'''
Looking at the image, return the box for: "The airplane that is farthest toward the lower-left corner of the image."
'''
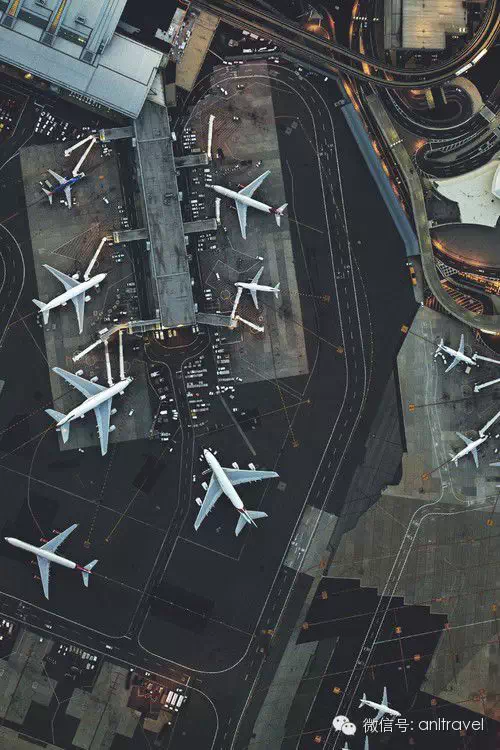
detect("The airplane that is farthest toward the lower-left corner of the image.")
[5,523,94,600]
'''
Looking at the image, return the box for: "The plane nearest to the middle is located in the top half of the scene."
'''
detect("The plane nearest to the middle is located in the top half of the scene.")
[235,266,280,309]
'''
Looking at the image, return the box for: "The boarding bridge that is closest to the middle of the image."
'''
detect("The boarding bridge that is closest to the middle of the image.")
[235,315,266,334]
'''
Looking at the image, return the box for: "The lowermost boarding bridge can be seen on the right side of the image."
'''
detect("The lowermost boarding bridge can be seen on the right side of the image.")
[477,412,500,436]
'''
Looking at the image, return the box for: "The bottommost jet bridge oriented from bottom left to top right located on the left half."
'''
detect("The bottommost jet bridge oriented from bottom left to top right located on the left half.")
[70,338,105,364]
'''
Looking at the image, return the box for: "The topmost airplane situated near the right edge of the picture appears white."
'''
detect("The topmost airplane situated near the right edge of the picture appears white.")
[436,335,476,371]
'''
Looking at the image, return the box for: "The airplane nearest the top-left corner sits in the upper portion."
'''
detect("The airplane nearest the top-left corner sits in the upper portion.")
[42,170,82,209]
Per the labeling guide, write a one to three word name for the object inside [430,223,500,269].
building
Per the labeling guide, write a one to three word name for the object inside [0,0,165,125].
building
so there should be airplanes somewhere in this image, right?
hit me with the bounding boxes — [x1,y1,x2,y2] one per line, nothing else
[35,264,107,333]
[448,433,488,467]
[42,170,82,209]
[212,170,287,238]
[48,369,133,456]
[359,689,400,724]
[436,335,476,371]
[195,450,280,532]
[235,266,280,309]
[5,523,94,600]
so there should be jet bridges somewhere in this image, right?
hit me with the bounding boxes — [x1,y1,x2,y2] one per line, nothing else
[234,284,243,324]
[208,113,215,160]
[63,134,97,158]
[474,378,500,394]
[73,137,100,178]
[477,412,500,436]
[70,338,105,364]
[214,196,222,224]
[119,331,126,379]
[83,235,109,279]
[471,353,500,363]
[235,315,266,334]
[104,341,113,387]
